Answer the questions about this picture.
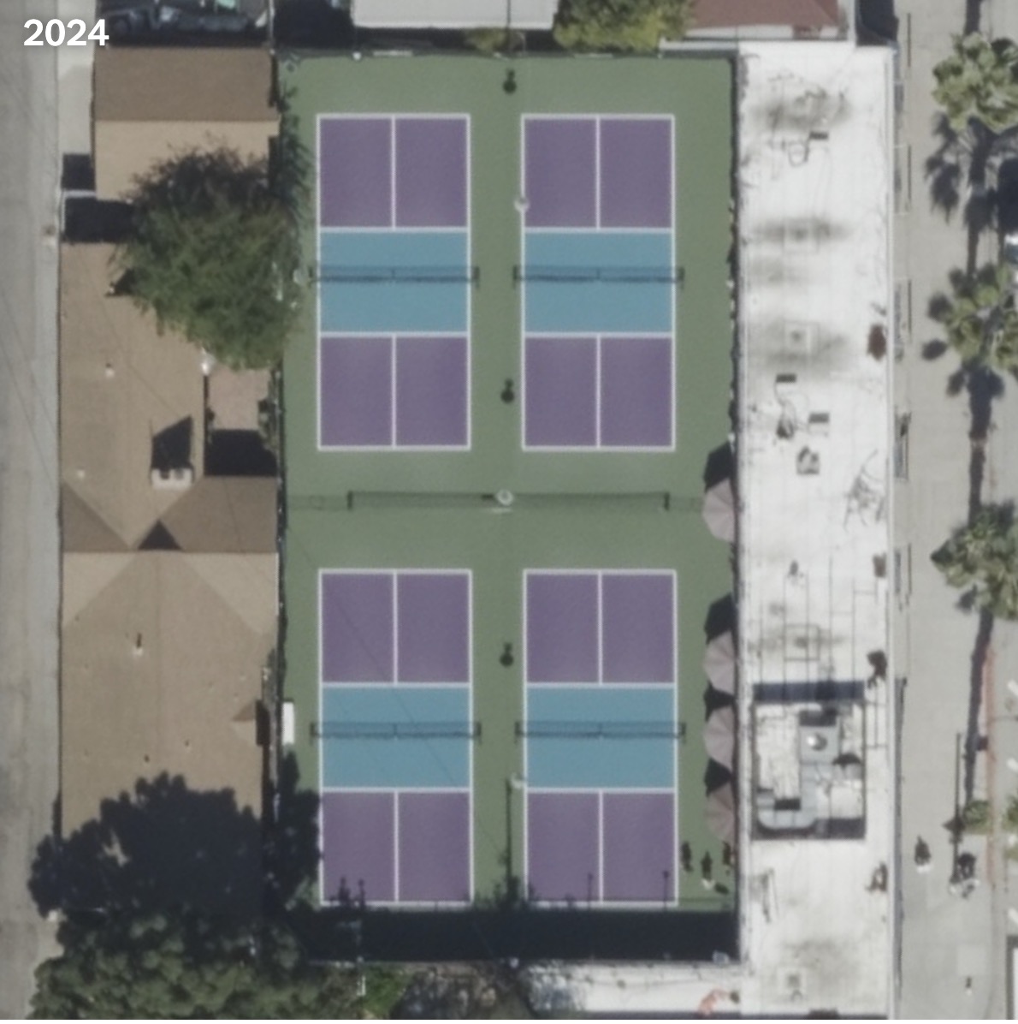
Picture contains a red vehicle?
No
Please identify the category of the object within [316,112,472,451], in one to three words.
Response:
sports court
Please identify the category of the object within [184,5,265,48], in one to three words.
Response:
car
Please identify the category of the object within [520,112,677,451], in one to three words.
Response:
sports court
